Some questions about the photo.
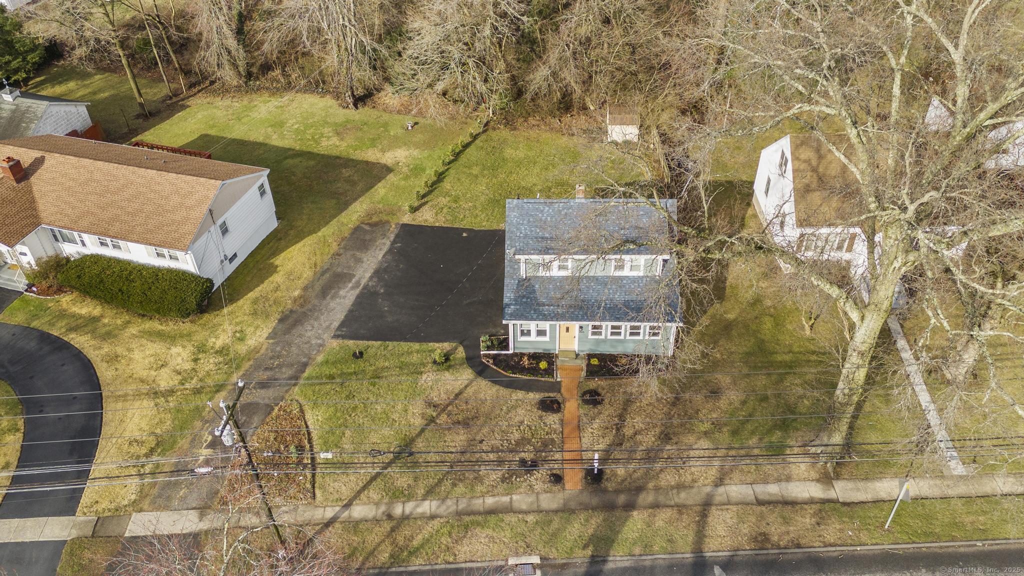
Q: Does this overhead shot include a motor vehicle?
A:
No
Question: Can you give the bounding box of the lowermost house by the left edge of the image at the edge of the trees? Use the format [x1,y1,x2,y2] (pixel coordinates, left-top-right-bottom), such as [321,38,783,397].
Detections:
[0,133,277,300]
